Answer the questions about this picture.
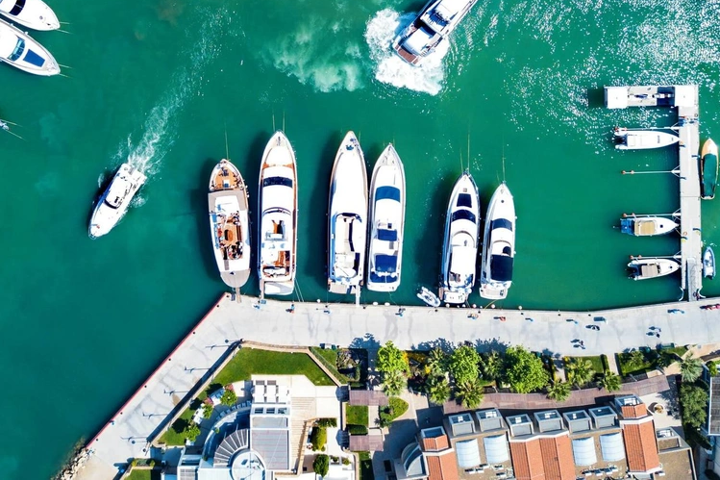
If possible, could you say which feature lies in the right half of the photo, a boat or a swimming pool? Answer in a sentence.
Looking in the right half of the photo, you will find a boat.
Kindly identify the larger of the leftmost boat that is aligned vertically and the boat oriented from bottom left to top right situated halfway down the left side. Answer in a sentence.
The leftmost boat that is aligned vertically takes up more space than the boat oriented from bottom left to top right situated halfway down the left side.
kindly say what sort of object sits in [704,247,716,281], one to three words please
boat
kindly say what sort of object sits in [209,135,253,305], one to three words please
boat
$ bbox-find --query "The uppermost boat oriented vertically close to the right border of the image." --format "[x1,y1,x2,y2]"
[700,140,719,197]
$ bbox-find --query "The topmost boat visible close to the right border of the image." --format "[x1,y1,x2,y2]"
[612,130,684,148]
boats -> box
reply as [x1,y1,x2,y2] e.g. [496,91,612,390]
[418,286,439,306]
[323,112,368,328]
[367,132,405,302]
[478,145,518,302]
[259,110,301,315]
[392,0,480,69]
[612,130,684,148]
[704,247,716,281]
[700,140,719,197]
[438,126,480,305]
[0,0,68,31]
[92,164,146,237]
[0,20,69,76]
[614,215,679,236]
[625,257,680,278]
[209,135,253,305]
